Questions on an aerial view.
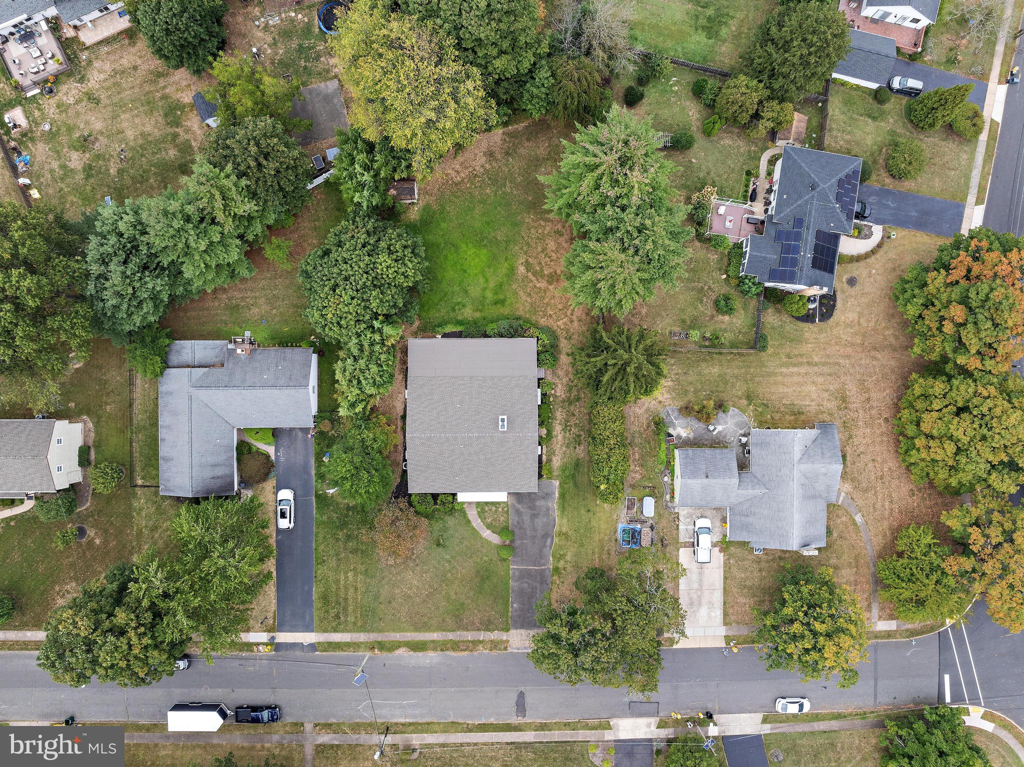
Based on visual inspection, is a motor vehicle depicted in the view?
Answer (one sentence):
Yes, this view includes a motor vehicle.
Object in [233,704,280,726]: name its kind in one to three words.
truck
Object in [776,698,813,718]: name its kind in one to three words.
car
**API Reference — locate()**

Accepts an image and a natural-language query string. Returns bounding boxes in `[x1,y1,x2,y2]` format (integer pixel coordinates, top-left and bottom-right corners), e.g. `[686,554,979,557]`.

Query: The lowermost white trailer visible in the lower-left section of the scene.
[167,701,233,732]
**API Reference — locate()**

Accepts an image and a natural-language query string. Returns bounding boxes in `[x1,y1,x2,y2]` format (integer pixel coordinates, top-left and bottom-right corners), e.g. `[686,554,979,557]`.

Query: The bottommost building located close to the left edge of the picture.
[0,419,84,501]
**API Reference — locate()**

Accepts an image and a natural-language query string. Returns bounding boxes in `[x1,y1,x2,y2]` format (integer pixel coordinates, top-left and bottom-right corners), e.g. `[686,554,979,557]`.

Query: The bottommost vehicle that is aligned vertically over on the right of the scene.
[694,517,714,564]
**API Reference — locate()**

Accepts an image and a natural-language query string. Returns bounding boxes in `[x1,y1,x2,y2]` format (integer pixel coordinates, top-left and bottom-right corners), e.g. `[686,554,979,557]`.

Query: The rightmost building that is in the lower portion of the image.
[674,423,842,555]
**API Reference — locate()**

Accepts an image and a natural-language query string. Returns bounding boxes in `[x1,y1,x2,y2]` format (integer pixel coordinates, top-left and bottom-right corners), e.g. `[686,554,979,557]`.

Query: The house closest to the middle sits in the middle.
[404,337,545,502]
